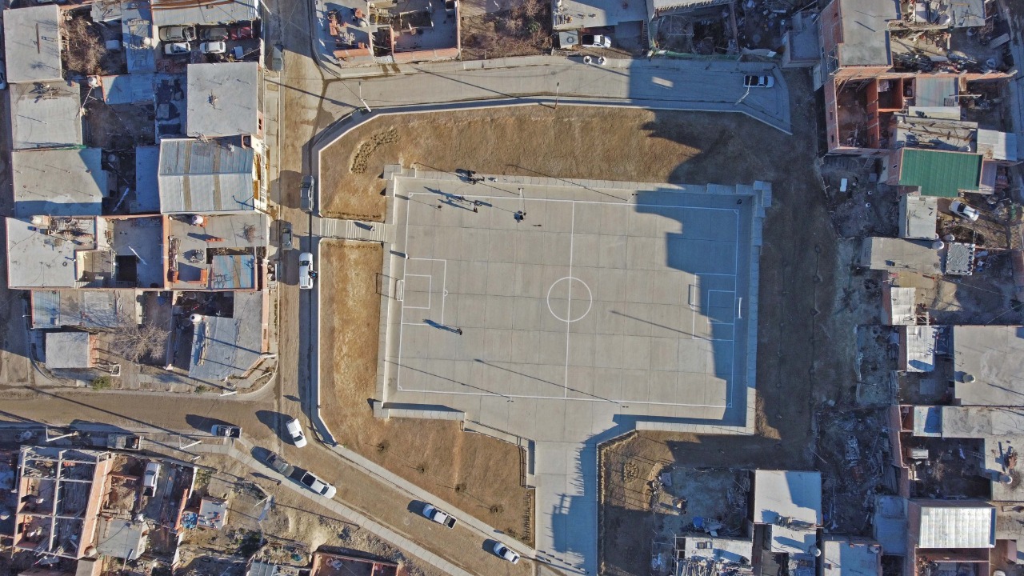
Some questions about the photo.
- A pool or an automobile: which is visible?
automobile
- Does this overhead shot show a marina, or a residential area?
residential area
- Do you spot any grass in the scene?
Yes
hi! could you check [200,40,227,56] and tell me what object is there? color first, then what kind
white car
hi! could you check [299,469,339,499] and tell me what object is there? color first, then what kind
white truck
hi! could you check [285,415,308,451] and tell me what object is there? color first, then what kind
white car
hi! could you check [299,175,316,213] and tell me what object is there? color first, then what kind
gray vehicle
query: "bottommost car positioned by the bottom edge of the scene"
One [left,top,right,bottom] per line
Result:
[491,541,522,563]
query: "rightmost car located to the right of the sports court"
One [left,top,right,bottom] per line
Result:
[944,199,982,223]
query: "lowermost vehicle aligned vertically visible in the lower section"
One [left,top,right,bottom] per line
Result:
[143,460,163,497]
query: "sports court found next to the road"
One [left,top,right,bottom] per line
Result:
[385,174,750,569]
